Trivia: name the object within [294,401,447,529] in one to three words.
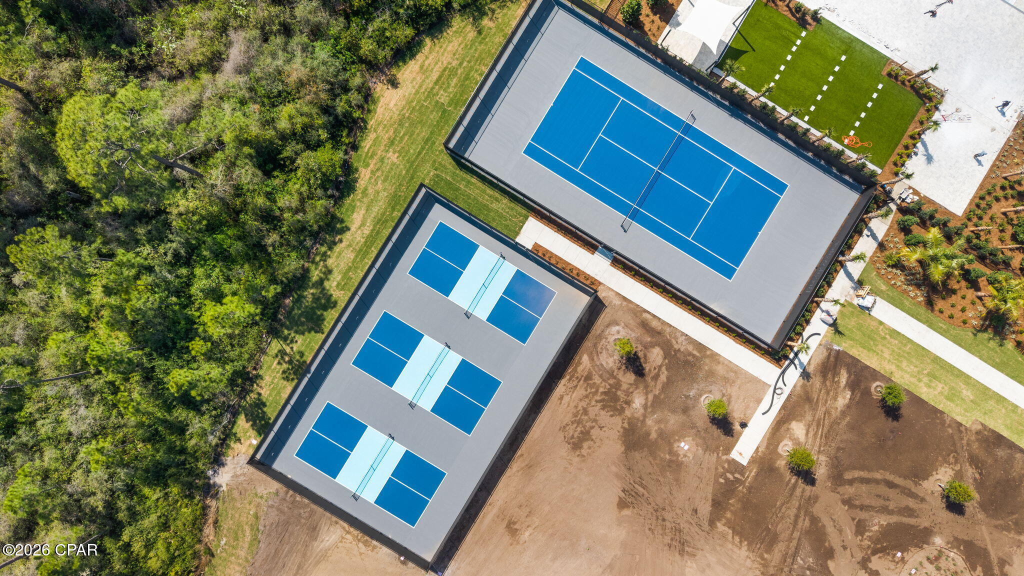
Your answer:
sports court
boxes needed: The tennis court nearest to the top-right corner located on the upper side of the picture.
[444,0,867,348]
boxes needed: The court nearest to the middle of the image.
[407,220,558,346]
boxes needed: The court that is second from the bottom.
[351,310,502,437]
